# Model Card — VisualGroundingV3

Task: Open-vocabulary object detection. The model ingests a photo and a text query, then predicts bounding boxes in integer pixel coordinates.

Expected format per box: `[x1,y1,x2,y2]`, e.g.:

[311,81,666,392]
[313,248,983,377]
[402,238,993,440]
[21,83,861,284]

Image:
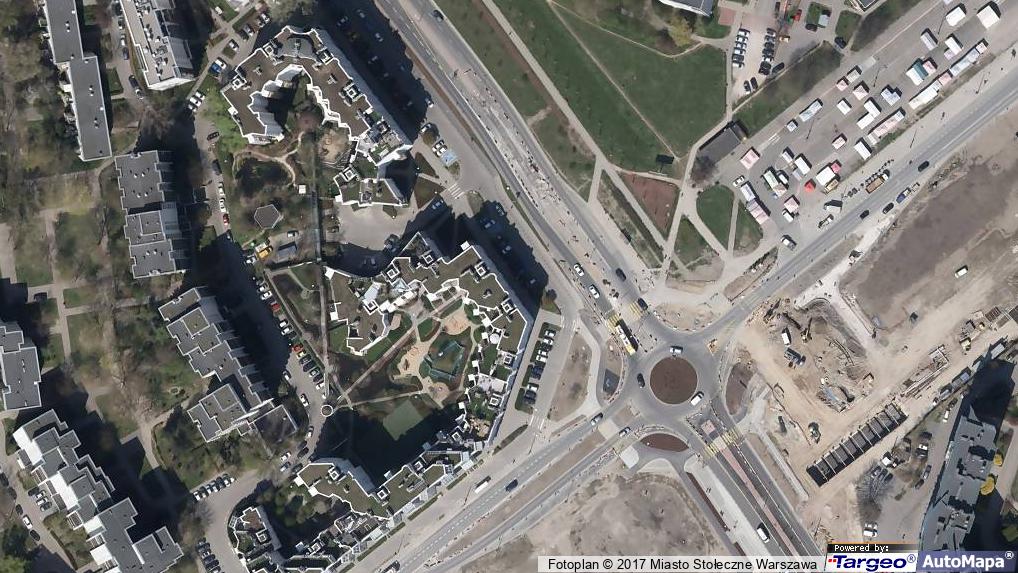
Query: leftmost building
[0,320,57,410]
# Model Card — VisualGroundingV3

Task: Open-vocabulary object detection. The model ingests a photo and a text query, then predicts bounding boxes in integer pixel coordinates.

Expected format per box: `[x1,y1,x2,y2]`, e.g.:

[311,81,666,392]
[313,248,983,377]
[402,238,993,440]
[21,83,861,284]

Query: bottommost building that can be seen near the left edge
[14,402,196,573]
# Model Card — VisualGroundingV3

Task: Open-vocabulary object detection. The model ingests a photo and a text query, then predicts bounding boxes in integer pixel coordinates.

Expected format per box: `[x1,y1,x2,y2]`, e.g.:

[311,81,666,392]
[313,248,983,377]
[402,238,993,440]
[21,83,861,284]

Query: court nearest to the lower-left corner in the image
[383,400,424,441]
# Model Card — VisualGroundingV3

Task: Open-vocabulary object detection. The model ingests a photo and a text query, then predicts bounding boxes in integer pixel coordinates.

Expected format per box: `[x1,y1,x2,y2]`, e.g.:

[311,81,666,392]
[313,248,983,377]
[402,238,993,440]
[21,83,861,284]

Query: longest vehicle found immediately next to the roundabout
[615,322,635,352]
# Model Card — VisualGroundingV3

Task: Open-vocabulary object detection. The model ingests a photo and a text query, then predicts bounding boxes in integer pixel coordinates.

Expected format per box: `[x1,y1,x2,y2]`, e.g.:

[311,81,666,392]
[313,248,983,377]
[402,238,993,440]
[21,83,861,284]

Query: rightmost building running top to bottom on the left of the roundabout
[455,298,529,444]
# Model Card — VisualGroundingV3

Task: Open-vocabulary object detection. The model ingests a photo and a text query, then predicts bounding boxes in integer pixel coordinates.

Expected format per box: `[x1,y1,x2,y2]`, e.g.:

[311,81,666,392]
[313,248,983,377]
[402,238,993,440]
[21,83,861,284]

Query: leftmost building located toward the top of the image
[44,0,122,161]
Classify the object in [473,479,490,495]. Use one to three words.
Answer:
vehicle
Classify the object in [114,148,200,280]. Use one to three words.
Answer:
building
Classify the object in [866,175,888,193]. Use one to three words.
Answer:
vehicle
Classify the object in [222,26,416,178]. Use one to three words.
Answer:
house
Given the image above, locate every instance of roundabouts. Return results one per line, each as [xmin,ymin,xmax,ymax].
[626,333,721,427]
